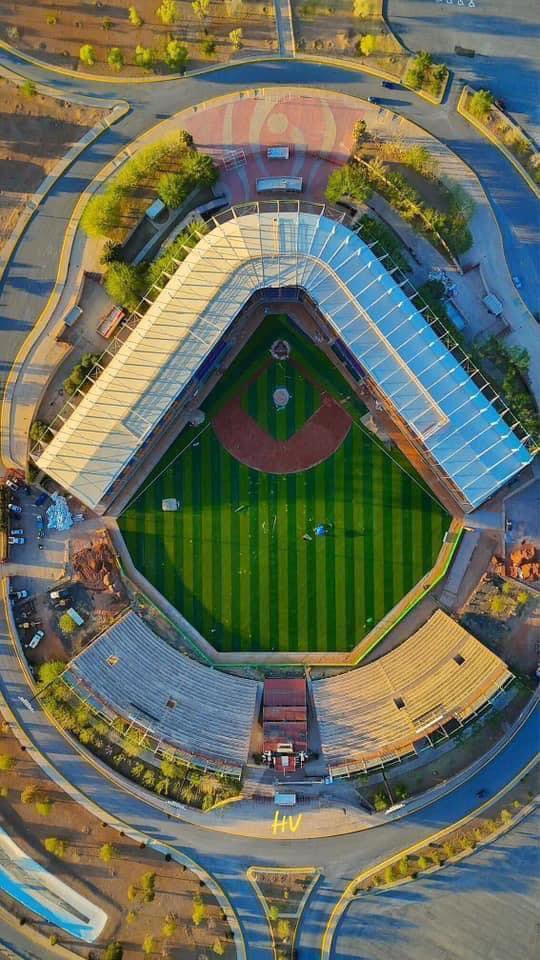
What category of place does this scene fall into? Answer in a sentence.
What you see here is a sports ground.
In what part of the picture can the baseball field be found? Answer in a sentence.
Look in the center portion of the view to spot the baseball field.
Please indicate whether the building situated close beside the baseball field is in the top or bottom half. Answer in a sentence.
The building situated close beside the baseball field is in the bottom half of the image.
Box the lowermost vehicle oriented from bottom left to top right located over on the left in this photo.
[30,630,43,647]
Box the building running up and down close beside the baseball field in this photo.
[262,672,308,778]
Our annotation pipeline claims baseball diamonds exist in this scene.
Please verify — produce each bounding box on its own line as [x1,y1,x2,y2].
[103,304,468,665]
